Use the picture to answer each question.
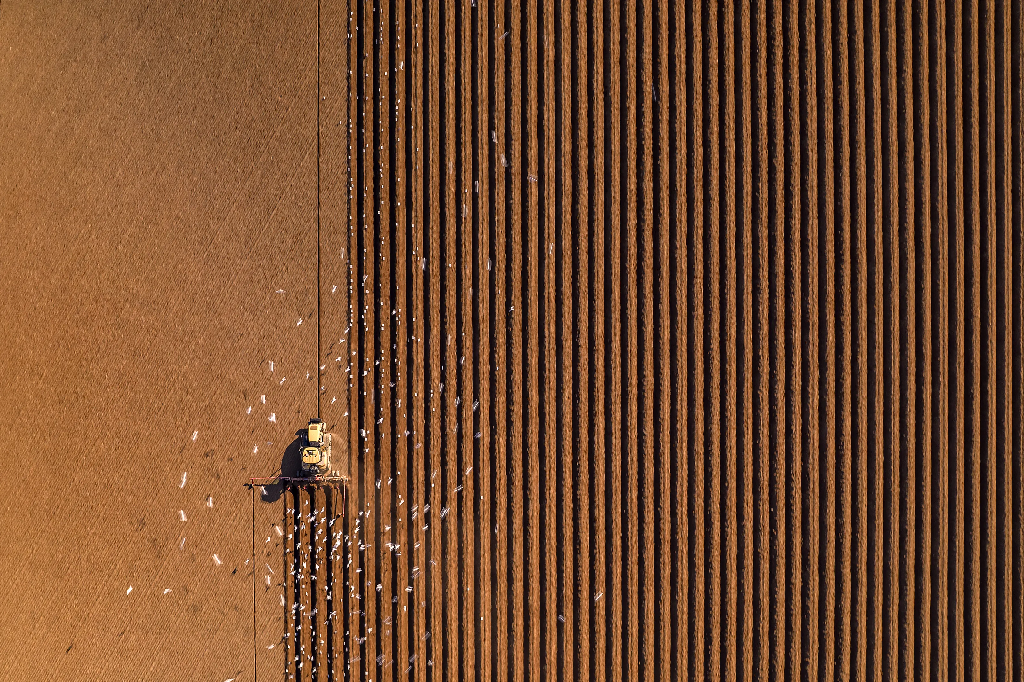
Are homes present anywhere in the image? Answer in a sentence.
No, I find no home anywhere in the image.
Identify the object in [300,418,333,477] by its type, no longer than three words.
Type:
work vehicle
